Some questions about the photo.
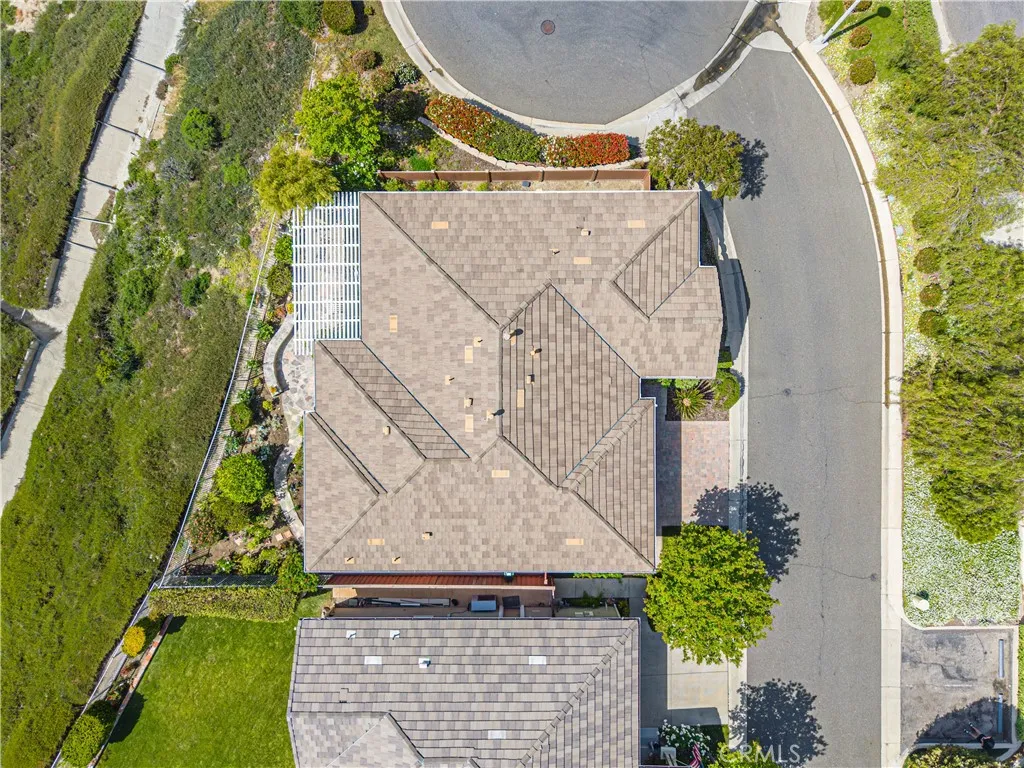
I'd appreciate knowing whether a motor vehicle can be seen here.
No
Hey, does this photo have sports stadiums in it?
No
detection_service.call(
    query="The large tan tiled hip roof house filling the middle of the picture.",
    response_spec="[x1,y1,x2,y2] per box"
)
[303,191,722,574]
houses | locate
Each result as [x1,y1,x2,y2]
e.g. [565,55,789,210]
[286,603,702,768]
[303,191,722,574]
